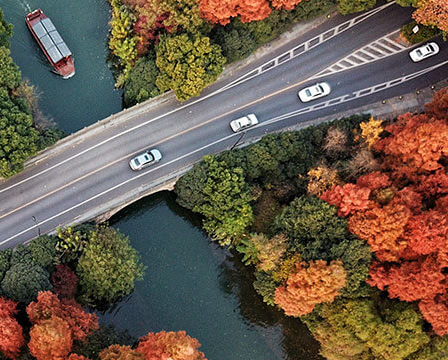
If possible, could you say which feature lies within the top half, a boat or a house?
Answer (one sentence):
The one visible within the top half is a boat.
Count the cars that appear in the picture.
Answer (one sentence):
The photo contains 4 cars.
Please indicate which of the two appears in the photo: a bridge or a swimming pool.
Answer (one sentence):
It is a bridge that can be seen here.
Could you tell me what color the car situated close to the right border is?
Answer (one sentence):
The car situated close to the right border is white.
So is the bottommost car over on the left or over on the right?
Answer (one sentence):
The bottommost car appears in the left half of the scene.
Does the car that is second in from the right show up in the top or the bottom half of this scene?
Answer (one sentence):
The top half of the photo is where the car that is second in from the right is.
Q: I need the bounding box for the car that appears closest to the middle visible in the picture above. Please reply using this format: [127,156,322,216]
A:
[230,110,260,132]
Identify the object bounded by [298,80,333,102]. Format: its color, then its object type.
white car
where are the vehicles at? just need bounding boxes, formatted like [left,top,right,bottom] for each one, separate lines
[410,39,443,61]
[298,80,333,102]
[129,147,163,169]
[230,110,260,132]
